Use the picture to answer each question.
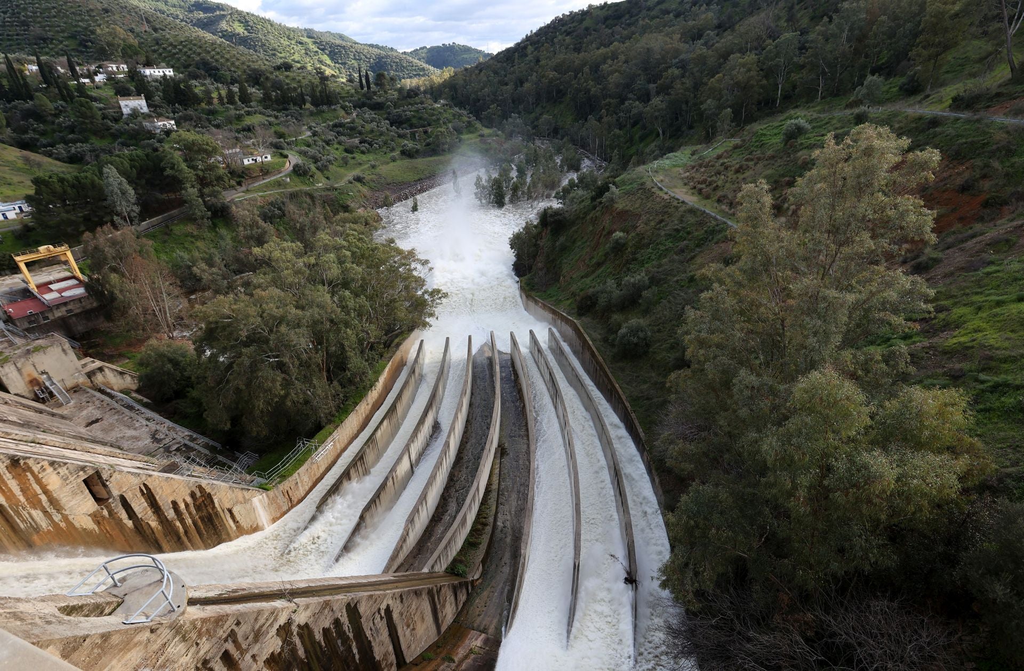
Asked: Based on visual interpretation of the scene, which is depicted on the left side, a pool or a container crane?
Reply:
container crane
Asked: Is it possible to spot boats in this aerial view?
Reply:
No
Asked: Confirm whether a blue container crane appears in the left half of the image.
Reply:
No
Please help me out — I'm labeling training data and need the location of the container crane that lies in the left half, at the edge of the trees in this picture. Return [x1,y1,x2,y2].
[9,242,85,295]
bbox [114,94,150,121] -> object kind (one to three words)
house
